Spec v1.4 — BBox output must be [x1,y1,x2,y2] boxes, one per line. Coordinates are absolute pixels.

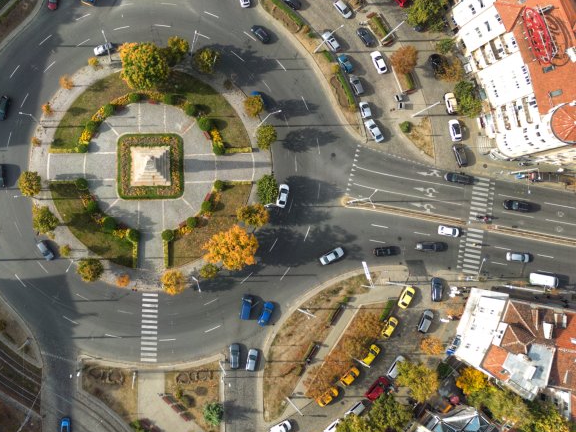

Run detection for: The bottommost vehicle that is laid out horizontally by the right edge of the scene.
[527,272,560,288]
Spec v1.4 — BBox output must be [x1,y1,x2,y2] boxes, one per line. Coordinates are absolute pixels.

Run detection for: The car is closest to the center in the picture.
[276,183,290,209]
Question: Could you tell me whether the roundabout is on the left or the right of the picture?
left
